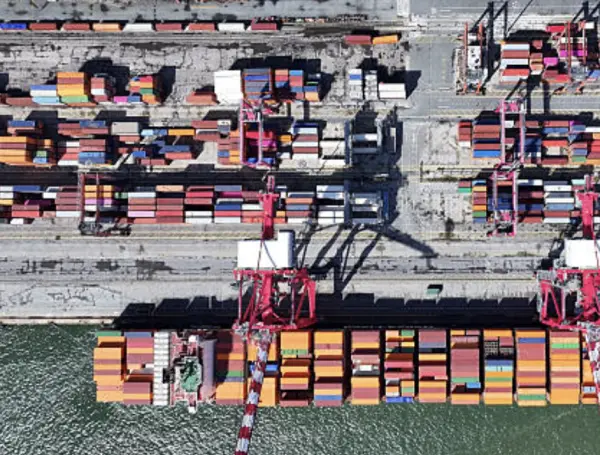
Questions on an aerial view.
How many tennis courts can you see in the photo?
0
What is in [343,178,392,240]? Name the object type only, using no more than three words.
crane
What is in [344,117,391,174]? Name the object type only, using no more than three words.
crane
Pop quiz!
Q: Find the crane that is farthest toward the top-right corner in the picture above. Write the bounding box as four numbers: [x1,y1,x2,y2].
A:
[556,18,588,87]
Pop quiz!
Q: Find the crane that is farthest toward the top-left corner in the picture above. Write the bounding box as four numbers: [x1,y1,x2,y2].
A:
[77,172,129,238]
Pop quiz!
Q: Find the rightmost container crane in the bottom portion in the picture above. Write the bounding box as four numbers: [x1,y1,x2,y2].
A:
[534,173,600,437]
